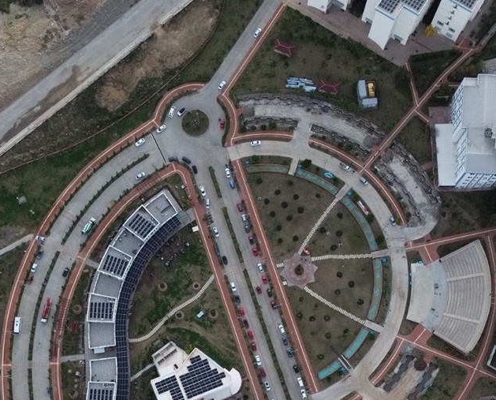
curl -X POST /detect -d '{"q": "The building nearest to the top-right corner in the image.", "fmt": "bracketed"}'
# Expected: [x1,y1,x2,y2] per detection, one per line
[436,0,478,42]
